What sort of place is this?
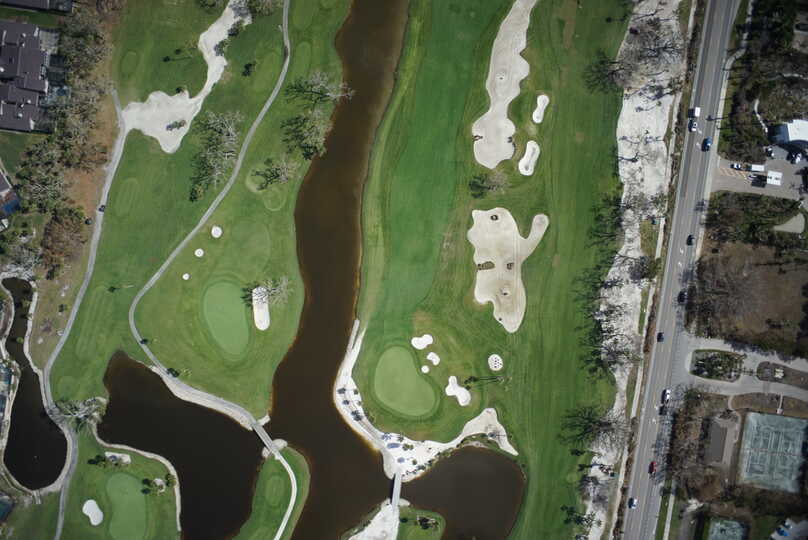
golf course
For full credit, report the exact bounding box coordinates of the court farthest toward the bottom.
[709,519,747,540]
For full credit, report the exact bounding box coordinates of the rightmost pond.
[399,445,525,540]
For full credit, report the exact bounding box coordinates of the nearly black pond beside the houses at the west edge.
[2,277,68,489]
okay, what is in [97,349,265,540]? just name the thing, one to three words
pond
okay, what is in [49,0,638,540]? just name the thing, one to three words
golf course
